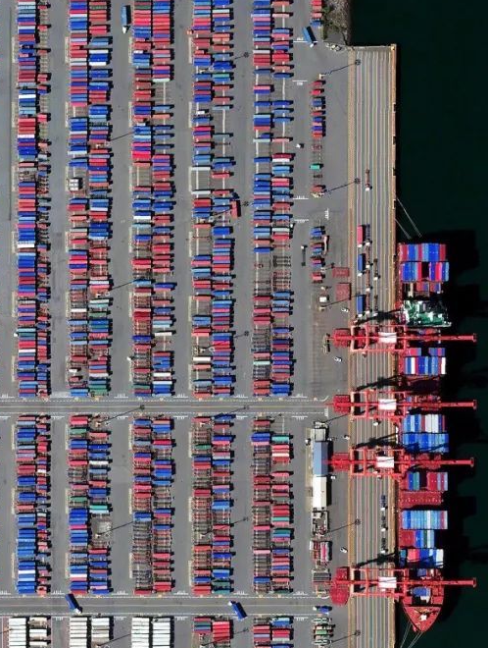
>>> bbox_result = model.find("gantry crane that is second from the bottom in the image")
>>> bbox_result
[332,444,476,481]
